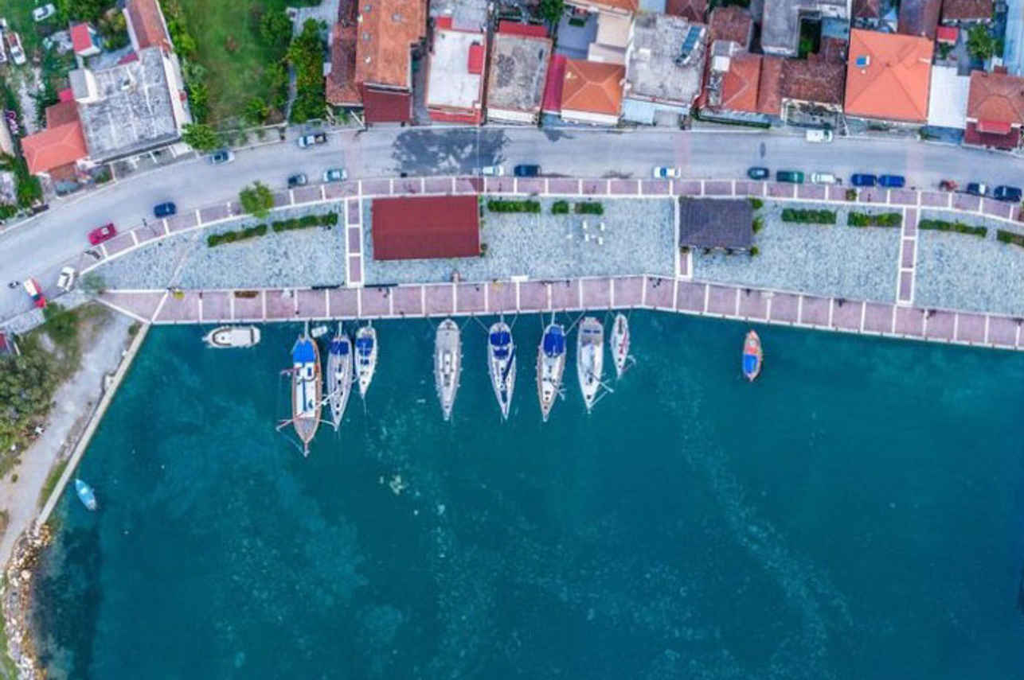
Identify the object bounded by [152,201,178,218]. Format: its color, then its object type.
blue car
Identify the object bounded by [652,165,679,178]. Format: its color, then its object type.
white vehicle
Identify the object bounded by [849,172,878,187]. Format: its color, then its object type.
blue car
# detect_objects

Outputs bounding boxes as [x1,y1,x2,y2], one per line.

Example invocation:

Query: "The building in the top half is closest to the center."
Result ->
[371,196,482,260]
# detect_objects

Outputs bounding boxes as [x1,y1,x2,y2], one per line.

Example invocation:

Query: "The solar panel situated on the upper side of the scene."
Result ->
[681,26,706,50]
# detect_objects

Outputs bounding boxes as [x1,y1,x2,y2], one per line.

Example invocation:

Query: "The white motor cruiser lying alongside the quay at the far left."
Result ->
[200,320,267,349]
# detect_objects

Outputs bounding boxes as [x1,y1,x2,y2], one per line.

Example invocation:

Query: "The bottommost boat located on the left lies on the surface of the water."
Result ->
[75,479,97,510]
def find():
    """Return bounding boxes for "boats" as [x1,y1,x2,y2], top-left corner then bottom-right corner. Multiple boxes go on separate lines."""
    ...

[344,319,378,399]
[741,329,763,382]
[566,310,610,411]
[200,320,267,349]
[427,314,473,421]
[306,320,352,430]
[477,312,518,421]
[609,307,636,379]
[313,326,328,336]
[535,310,583,423]
[75,479,97,510]
[273,320,323,460]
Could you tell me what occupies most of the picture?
water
